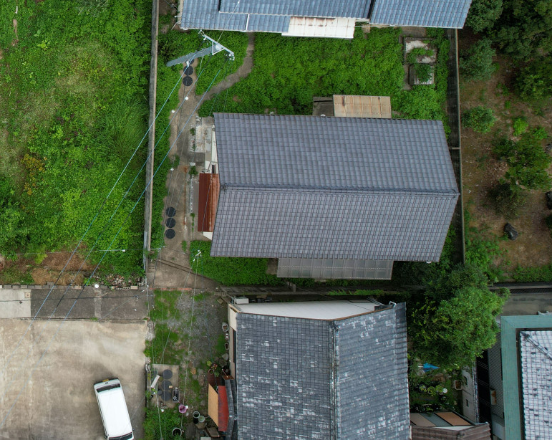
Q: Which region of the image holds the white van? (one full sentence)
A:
The white van is located in the bottom left region of the scene.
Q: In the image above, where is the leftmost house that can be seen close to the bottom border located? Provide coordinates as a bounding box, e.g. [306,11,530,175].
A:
[224,298,411,440]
